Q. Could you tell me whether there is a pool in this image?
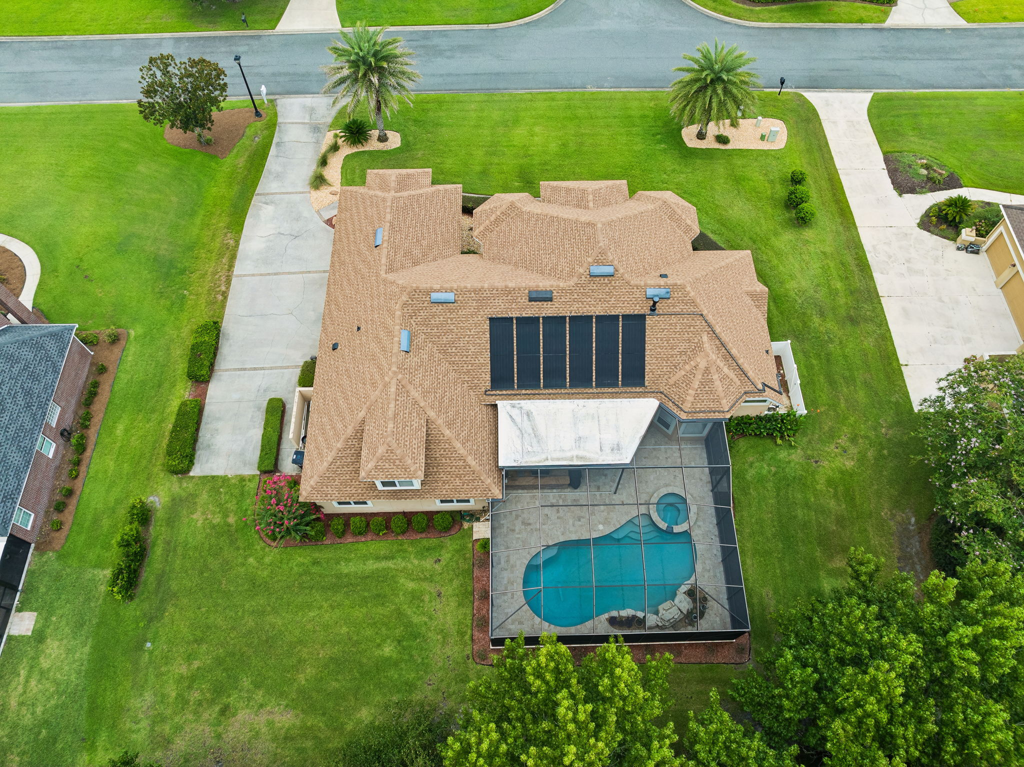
Yes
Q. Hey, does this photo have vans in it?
No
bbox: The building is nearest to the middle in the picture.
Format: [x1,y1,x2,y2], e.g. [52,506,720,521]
[298,169,787,517]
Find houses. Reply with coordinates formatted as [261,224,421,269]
[0,274,96,543]
[979,202,1024,395]
[298,169,787,517]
